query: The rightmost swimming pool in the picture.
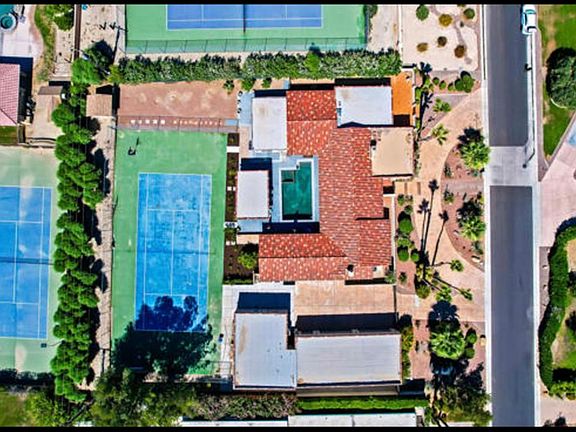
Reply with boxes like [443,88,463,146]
[280,160,314,221]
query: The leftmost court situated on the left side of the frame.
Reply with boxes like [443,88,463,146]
[0,148,62,376]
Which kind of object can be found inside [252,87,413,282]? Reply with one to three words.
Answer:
house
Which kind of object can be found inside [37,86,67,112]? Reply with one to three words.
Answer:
shed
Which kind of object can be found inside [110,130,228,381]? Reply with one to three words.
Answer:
tennis court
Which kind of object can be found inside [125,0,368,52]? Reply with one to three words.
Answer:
tennis court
